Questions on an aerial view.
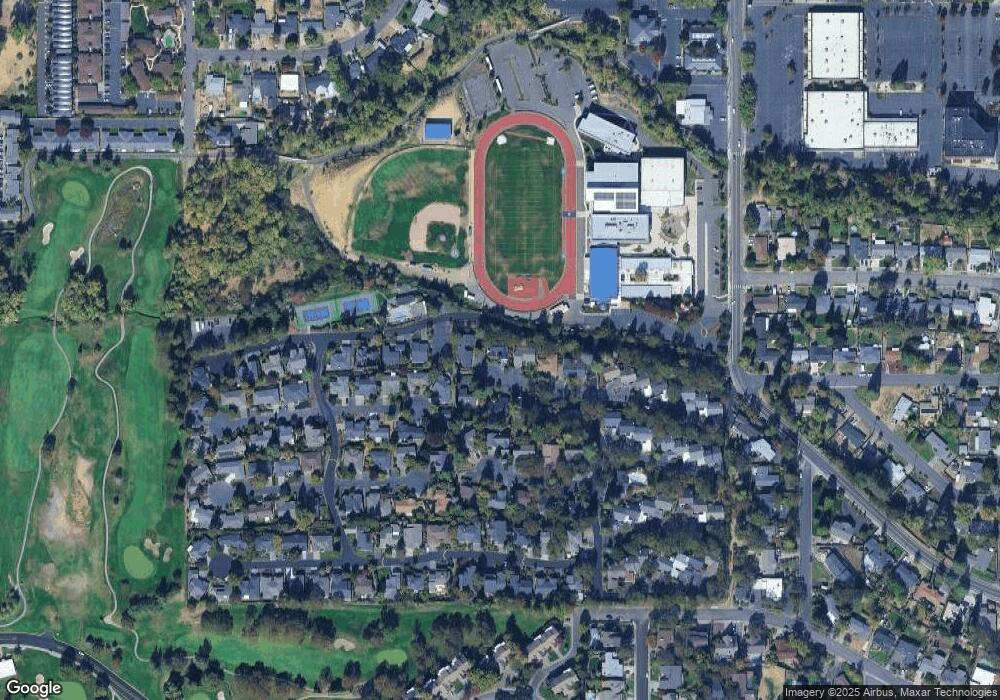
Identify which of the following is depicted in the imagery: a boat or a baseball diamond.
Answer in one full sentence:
Visible in the photo is a baseball diamond.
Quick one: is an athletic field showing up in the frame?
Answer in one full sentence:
Yes, there's an athletic field here.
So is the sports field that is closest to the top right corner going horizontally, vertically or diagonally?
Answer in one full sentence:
The sports field that is closest to the top right corner runs vertically in the image.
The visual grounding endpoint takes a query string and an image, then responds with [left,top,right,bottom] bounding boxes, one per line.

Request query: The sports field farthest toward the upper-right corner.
[485,122,564,298]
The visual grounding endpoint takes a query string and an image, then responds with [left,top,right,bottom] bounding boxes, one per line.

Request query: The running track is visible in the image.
[475,111,588,311]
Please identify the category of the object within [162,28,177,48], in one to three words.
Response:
swimming pool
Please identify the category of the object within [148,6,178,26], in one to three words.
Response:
building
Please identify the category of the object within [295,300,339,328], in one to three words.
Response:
tennis court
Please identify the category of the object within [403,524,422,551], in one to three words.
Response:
house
